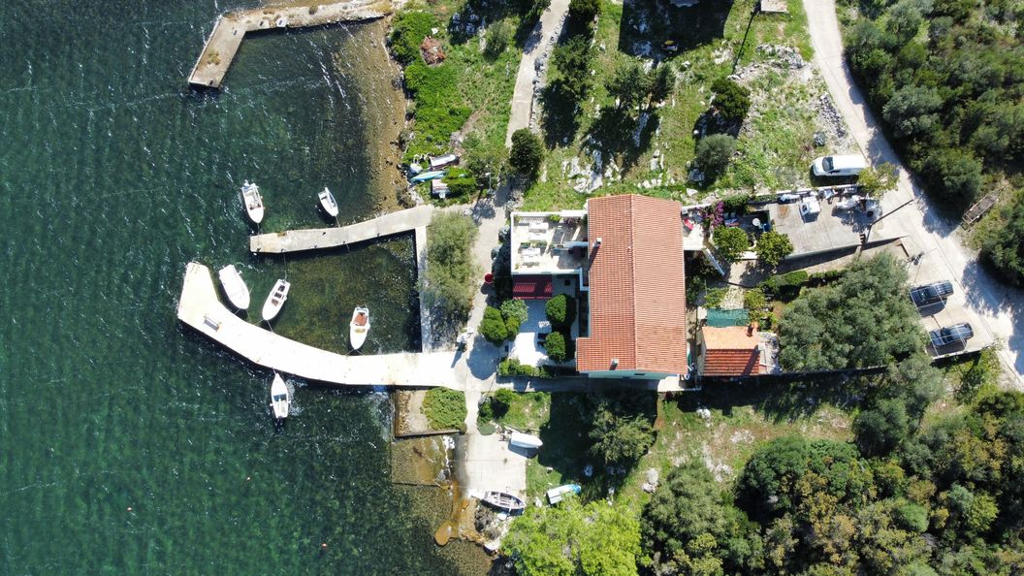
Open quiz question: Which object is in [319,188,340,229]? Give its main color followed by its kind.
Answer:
white boat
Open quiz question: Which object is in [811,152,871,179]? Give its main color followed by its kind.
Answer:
white vehicle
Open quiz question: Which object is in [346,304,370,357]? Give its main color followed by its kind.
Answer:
white boat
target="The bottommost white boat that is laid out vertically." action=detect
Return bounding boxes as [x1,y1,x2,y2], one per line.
[270,367,289,423]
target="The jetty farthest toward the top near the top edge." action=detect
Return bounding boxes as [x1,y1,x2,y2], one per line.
[188,0,390,90]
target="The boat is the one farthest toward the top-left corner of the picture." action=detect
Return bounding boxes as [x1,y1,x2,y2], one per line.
[242,183,263,231]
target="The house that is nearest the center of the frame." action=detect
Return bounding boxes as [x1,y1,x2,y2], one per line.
[572,190,687,375]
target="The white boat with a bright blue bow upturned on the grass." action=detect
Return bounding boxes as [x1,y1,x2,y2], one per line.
[547,487,580,507]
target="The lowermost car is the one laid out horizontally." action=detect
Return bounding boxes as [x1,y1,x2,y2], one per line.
[922,321,977,351]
